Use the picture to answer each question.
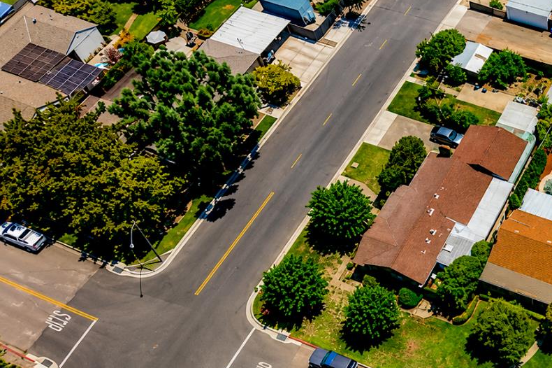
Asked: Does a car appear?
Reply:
Yes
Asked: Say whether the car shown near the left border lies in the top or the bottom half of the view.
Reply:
bottom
